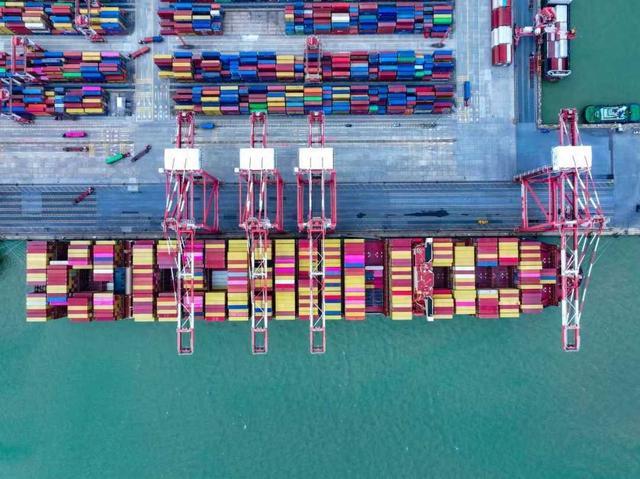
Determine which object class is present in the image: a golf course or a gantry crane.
gantry crane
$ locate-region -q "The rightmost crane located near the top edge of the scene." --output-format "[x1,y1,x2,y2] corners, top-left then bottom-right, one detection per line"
[515,9,576,47]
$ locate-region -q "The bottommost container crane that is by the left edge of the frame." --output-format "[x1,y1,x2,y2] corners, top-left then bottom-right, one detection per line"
[0,71,35,122]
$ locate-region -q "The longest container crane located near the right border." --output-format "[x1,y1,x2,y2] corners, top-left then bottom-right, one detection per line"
[510,111,609,356]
